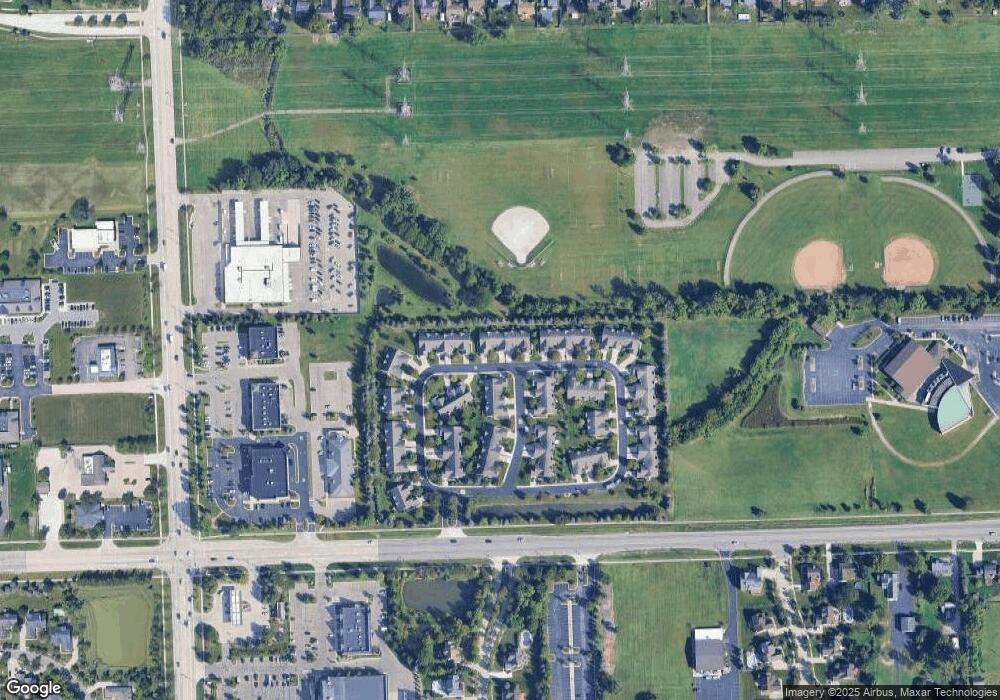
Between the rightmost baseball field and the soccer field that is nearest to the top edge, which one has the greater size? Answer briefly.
the baseball field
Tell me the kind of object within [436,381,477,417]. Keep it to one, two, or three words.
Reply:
house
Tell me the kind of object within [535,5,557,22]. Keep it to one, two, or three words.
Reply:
house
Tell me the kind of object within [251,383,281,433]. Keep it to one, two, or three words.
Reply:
building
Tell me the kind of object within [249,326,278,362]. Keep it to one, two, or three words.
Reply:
building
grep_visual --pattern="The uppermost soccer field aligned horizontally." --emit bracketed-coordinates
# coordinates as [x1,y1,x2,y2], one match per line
[446,152,553,198]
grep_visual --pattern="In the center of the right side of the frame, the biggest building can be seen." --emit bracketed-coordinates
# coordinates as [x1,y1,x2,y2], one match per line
[885,341,975,436]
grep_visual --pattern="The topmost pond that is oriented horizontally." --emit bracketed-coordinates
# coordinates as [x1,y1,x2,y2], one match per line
[472,501,651,517]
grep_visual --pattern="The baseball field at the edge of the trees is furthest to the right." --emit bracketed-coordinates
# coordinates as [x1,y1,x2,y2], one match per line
[868,186,990,292]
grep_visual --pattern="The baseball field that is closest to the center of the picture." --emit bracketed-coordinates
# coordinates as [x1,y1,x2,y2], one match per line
[478,185,566,269]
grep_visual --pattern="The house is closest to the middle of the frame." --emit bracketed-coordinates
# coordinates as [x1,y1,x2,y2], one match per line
[479,333,530,358]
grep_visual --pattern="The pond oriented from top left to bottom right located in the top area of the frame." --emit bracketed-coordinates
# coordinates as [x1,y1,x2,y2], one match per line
[375,241,454,309]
